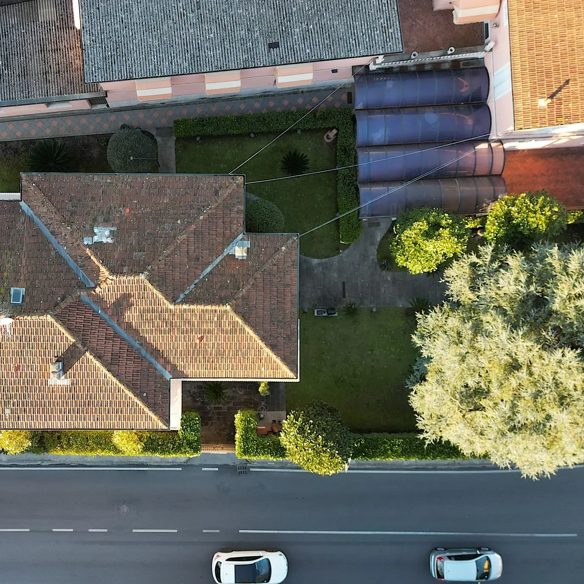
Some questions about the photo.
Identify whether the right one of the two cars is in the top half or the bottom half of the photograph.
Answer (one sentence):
Seen from above, the right one of the two cars lies in the bottom half of the view.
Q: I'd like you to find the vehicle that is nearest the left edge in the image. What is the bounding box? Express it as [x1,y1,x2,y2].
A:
[213,547,286,584]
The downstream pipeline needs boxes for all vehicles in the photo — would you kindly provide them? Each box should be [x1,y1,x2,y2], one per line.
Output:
[213,547,286,584]
[429,545,500,584]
